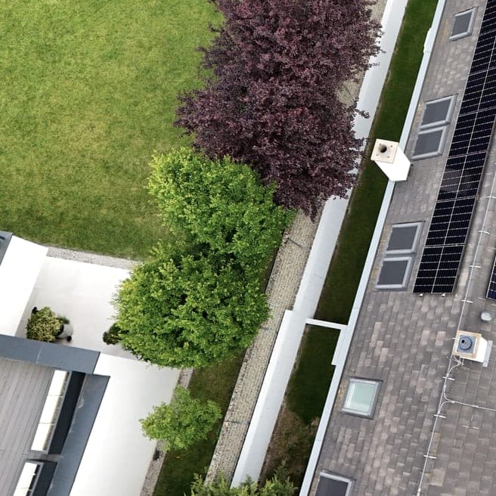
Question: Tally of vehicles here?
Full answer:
The photo contains no vehicles.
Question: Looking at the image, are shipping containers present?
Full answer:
No, there is no shipping container in the image.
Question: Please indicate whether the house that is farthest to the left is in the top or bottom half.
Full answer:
It is in the bottom half that the house that is farthest to the left appears.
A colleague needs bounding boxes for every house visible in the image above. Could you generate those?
[301,0,496,496]
[0,332,181,496]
